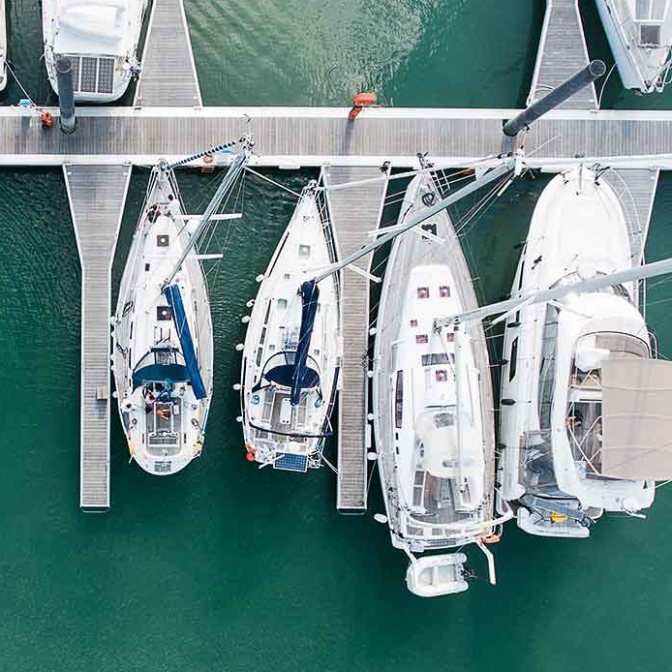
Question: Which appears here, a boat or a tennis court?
boat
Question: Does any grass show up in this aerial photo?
No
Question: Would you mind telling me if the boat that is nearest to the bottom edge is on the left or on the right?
right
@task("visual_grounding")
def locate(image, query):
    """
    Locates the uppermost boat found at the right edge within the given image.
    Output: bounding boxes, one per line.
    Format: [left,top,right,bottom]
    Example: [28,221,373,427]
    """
[588,0,672,101]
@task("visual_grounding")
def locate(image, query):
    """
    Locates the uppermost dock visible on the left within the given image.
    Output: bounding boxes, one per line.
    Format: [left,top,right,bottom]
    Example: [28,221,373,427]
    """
[133,0,201,109]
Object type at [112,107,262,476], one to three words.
boat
